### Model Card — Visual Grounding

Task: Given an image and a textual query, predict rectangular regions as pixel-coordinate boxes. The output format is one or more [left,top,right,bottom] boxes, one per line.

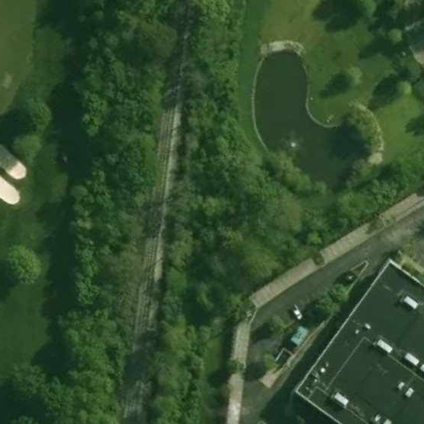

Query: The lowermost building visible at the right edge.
[297,261,424,424]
